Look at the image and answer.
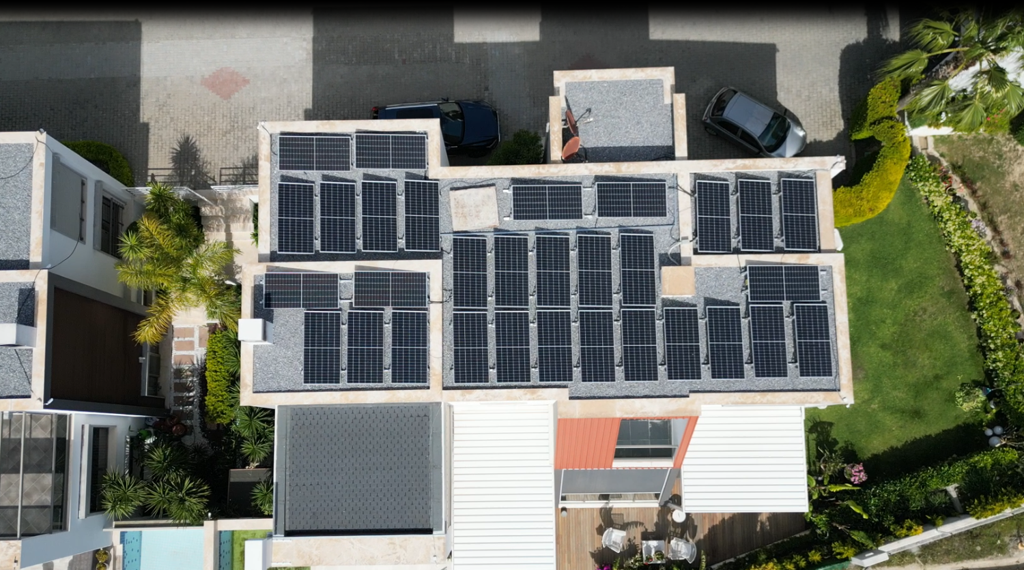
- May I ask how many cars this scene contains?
2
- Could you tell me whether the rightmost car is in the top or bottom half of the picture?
top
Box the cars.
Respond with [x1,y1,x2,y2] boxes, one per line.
[371,97,498,158]
[703,82,805,158]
